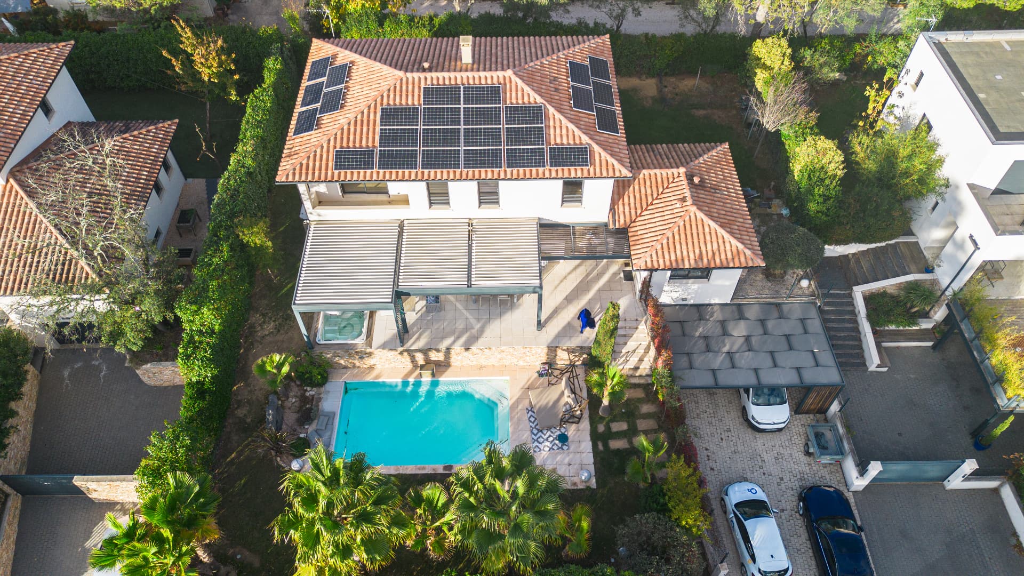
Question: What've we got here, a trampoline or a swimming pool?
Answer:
swimming pool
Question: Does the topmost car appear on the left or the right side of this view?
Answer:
right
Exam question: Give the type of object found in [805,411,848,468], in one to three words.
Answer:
trailer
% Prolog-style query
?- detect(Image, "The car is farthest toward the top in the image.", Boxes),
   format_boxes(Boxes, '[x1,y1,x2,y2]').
[740,388,802,434]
